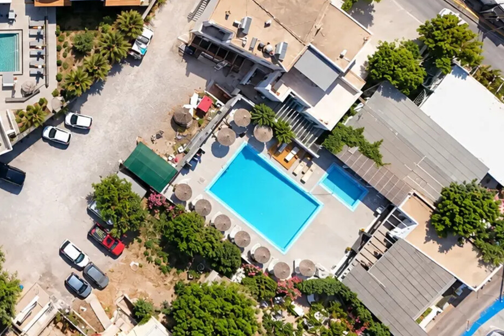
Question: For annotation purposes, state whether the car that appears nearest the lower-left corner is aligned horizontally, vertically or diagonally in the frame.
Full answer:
From this overhead view, the car that appears nearest the lower-left corner appears to run diagonally.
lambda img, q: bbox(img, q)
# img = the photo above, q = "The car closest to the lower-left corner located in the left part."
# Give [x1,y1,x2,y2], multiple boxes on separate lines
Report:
[62,270,93,298]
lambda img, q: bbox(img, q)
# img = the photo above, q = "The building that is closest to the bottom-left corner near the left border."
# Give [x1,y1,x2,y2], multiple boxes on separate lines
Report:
[13,276,58,336]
